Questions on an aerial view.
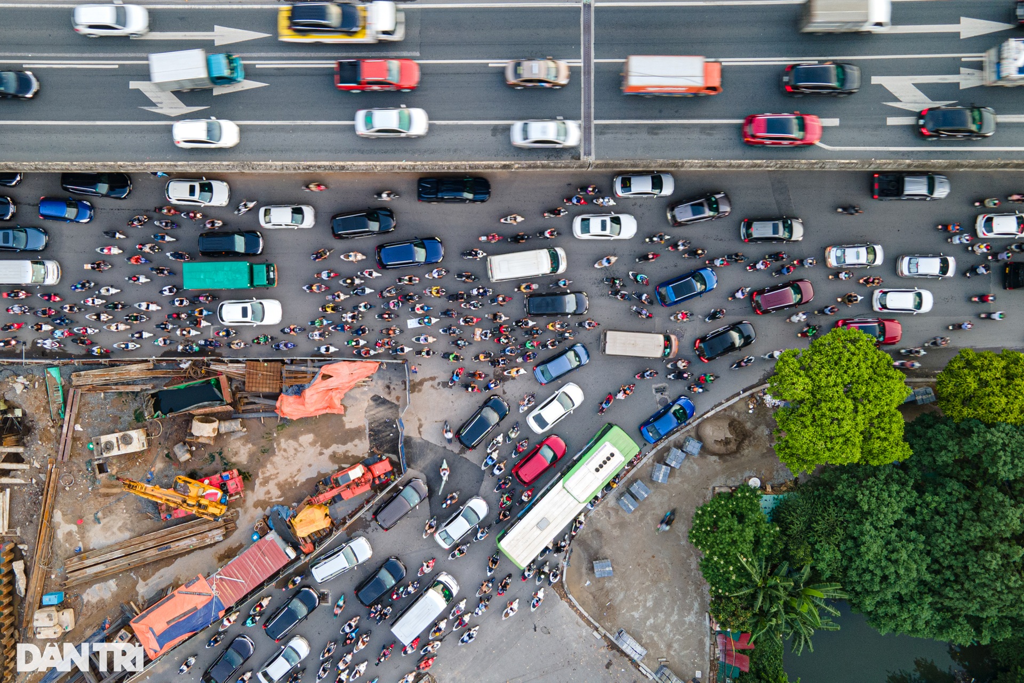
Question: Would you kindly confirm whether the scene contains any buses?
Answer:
Yes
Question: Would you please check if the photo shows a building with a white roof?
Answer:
No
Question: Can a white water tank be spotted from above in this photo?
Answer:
No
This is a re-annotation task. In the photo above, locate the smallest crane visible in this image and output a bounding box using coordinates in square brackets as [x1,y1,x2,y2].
[308,442,395,505]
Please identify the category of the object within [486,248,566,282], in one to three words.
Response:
vehicle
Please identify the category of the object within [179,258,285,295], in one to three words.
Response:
truck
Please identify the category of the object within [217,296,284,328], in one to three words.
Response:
car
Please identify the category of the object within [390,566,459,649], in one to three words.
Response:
van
